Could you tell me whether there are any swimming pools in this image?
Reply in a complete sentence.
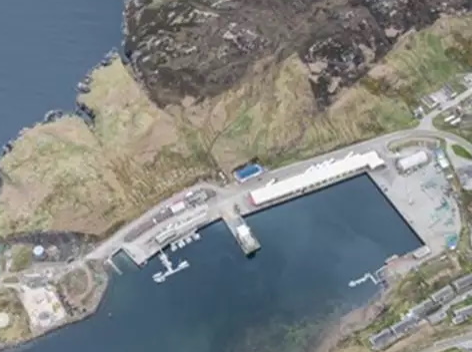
No, I can't see a single swimming pool in this photo.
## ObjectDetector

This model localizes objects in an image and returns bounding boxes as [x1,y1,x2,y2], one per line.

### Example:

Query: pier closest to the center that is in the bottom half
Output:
[220,213,261,257]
